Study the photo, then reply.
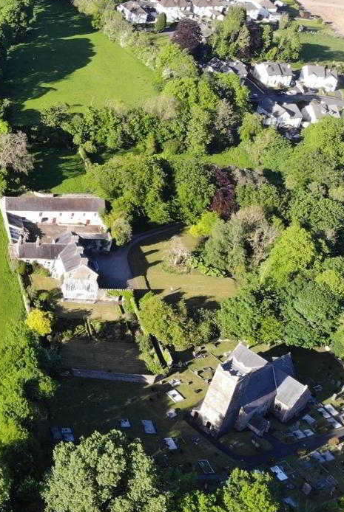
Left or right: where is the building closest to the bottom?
right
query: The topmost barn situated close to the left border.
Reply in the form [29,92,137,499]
[2,196,113,225]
